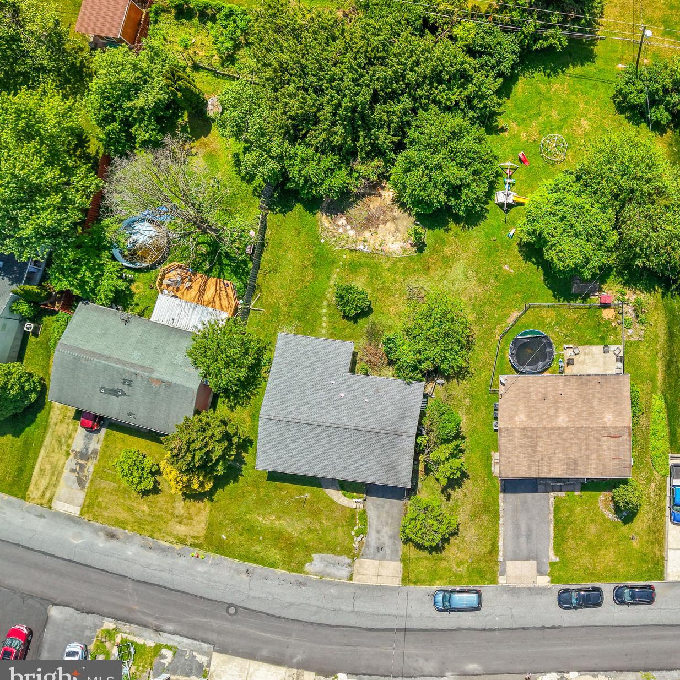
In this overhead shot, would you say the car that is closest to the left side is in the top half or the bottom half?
bottom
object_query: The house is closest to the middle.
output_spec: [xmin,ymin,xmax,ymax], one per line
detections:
[258,332,428,489]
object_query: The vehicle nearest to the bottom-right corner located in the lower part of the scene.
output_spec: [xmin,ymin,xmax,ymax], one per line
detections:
[613,584,656,607]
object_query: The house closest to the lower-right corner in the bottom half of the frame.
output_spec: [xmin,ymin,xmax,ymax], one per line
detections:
[498,374,632,479]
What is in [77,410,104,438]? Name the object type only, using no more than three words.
car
